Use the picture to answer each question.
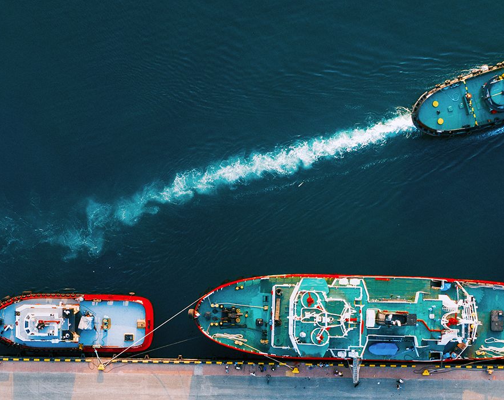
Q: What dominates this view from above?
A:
water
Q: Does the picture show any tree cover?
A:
No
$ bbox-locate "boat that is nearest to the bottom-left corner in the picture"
[0,292,154,354]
